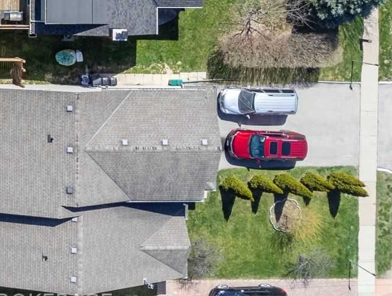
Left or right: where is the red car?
right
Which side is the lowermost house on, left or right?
left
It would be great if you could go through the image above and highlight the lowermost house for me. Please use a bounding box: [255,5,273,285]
[0,79,220,296]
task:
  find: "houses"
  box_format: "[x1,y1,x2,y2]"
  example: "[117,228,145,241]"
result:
[0,79,220,296]
[31,0,206,40]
